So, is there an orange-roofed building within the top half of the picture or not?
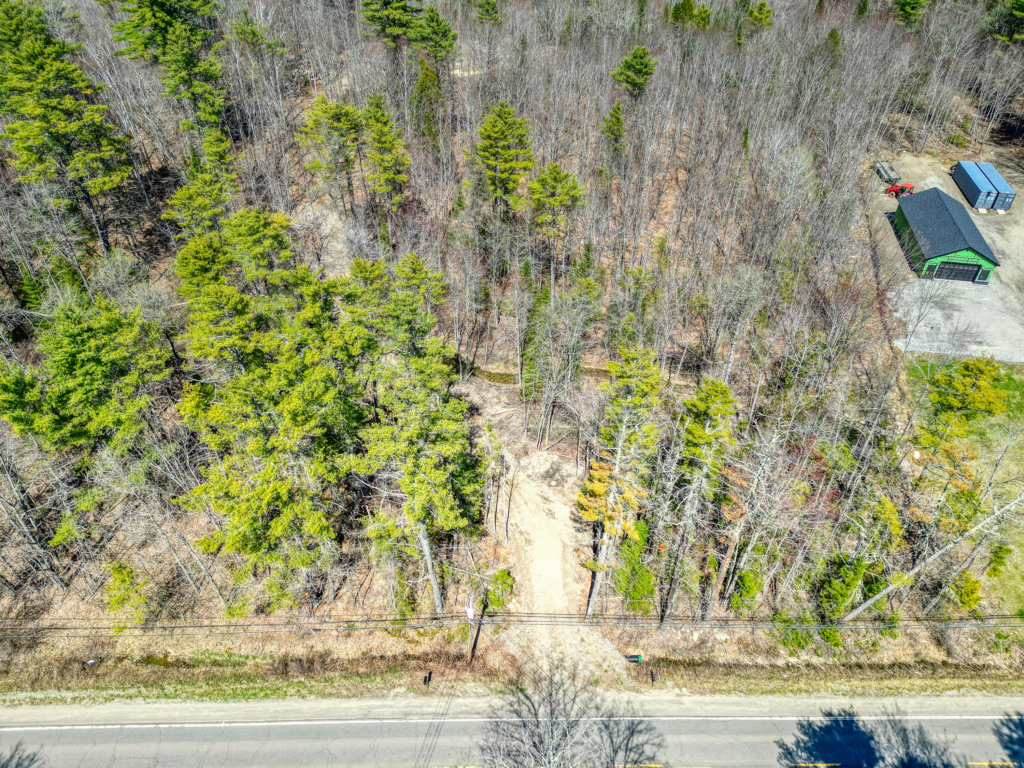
No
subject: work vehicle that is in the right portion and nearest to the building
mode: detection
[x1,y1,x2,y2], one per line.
[876,180,915,197]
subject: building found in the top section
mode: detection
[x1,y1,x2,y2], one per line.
[893,187,1001,285]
